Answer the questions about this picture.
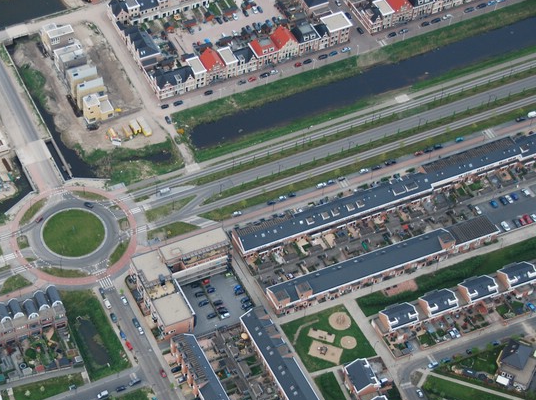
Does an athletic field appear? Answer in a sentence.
No, I can't see a single athletic field in this photo.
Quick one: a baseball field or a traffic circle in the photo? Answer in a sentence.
This aerial view contains a traffic circle.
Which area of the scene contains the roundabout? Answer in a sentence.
You can find the roundabout in the left area of the picture.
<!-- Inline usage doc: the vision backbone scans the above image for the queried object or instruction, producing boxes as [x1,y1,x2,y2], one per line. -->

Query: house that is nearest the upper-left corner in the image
[41,22,74,53]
